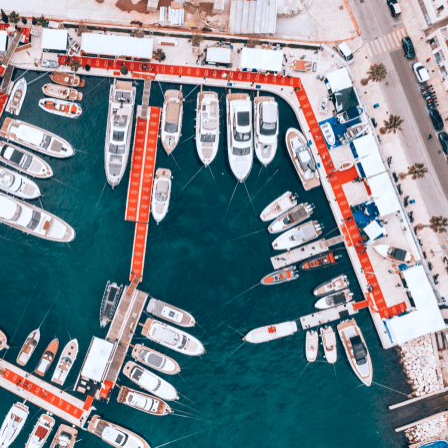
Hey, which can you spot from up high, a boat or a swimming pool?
boat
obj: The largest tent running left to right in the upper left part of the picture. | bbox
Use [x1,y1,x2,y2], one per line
[81,34,153,65]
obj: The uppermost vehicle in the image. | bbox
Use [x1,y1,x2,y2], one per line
[385,0,401,20]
